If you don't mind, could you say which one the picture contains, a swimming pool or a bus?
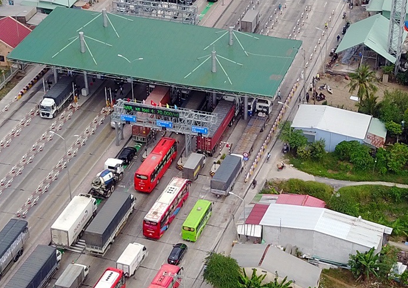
bus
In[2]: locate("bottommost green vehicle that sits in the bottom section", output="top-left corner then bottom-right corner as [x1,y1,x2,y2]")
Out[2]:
[181,200,216,245]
